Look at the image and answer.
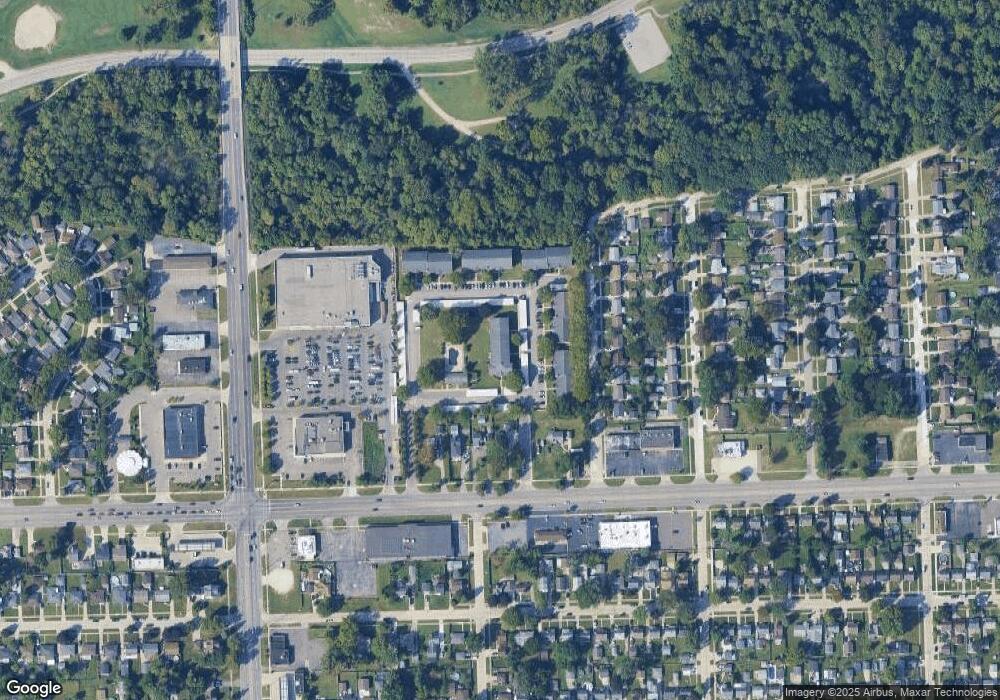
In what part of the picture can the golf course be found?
top left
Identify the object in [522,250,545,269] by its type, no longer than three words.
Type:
building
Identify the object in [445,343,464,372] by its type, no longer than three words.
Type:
swimming pool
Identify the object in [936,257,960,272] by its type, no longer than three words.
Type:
house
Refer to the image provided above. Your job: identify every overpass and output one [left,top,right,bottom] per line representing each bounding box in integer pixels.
[220,34,242,98]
